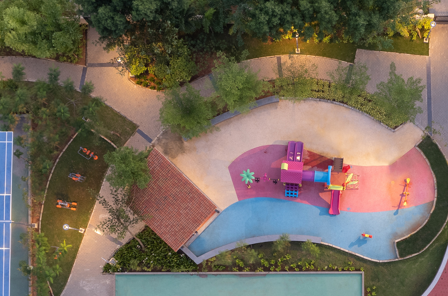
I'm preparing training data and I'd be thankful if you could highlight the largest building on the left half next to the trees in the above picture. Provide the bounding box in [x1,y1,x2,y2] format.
[128,147,221,253]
